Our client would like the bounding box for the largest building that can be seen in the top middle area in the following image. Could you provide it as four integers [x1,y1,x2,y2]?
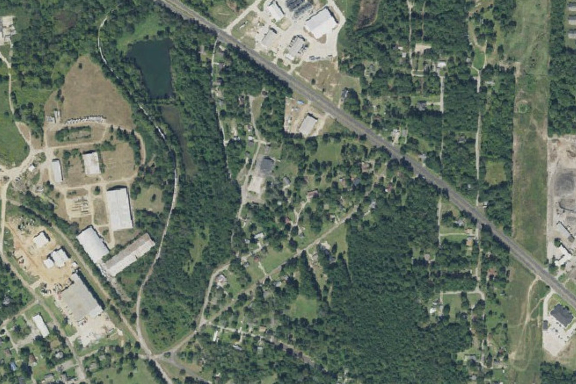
[304,7,338,39]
